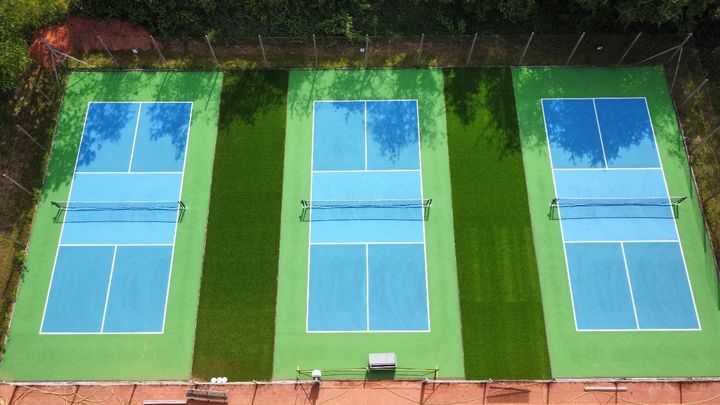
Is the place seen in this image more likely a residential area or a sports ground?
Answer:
sports ground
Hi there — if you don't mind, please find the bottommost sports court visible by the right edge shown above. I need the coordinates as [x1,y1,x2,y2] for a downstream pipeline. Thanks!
[513,65,720,378]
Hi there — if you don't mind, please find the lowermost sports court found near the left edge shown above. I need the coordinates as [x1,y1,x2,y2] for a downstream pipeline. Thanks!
[0,70,222,382]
